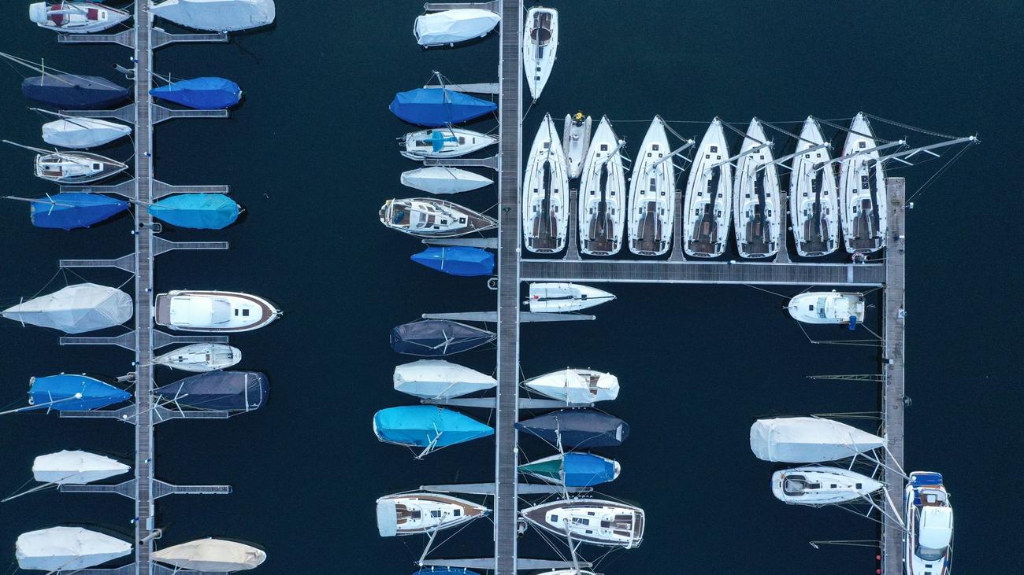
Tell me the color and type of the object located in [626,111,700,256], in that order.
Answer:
white boat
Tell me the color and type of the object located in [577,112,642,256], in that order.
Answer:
white boat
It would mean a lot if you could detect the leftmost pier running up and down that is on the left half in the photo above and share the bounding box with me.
[122,0,158,575]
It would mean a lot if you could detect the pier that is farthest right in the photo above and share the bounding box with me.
[878,178,906,575]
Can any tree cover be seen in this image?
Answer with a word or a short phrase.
No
